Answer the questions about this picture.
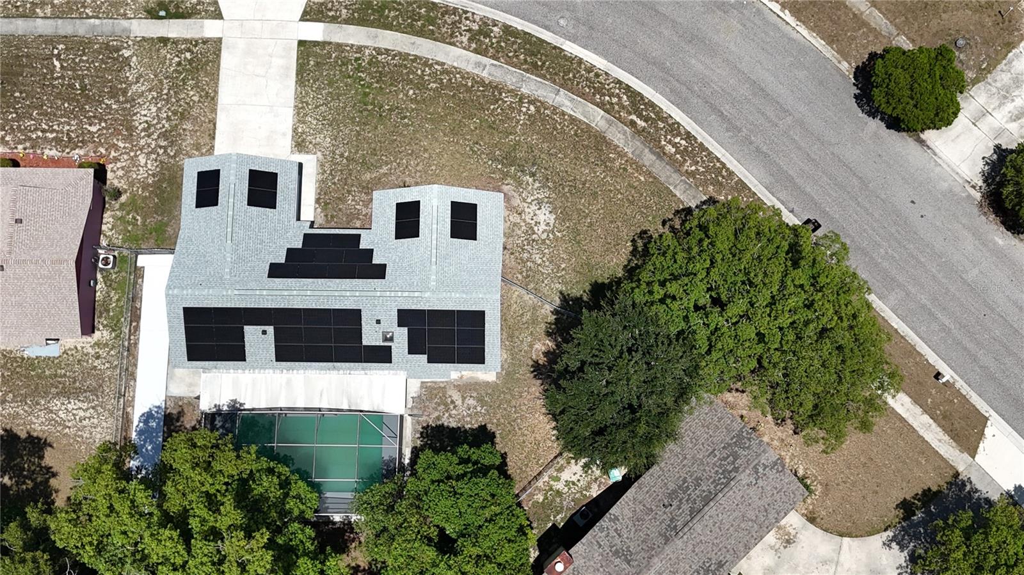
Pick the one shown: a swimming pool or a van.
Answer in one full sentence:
This aerial view contains a swimming pool.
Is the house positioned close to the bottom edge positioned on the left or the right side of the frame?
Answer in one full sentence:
The house positioned close to the bottom edge appears in the right half of the scene.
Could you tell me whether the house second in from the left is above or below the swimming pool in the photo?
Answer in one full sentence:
The house second in from the left is located above the swimming pool in this view.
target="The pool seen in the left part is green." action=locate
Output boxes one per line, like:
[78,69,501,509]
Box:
[250,412,383,493]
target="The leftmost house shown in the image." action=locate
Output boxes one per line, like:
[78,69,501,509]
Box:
[0,166,106,348]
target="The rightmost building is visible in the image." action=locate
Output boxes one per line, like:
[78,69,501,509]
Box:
[543,400,810,575]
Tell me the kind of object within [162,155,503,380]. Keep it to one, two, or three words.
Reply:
house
